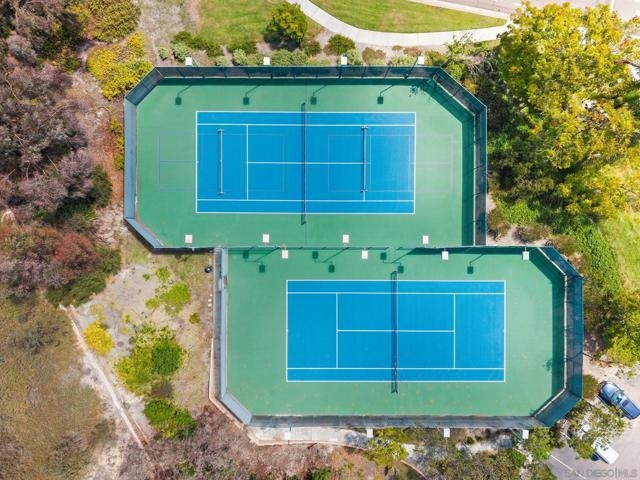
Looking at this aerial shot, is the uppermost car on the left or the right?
right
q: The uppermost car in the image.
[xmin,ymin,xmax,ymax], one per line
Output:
[598,378,640,420]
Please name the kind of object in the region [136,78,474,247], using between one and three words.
tennis court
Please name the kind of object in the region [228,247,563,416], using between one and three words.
tennis court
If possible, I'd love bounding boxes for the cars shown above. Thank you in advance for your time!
[574,424,621,466]
[598,378,640,420]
